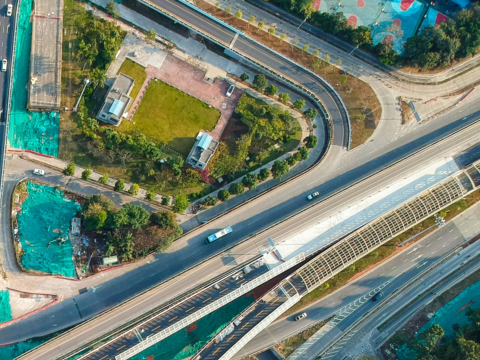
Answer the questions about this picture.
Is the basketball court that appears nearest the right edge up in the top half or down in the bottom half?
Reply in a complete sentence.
You can find the basketball court that appears nearest the right edge in the top half.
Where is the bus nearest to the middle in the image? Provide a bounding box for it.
[206,224,236,244]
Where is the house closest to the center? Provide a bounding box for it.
[182,129,220,175]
